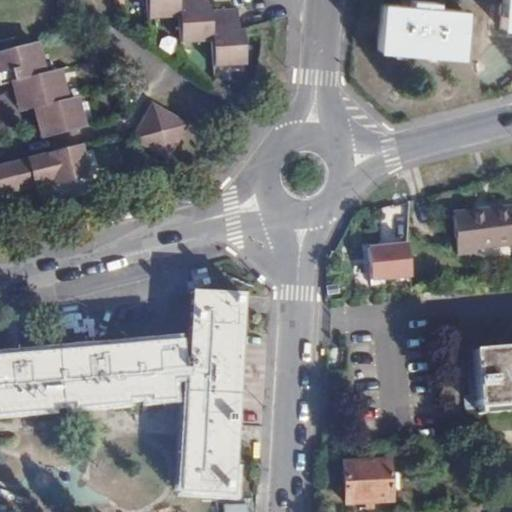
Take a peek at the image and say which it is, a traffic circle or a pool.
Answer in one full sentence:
Of the two, only a traffic circle appears.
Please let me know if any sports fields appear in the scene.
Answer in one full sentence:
No, no sports field is visible in the scene.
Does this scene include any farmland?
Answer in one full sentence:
No, there is no farmland in the image.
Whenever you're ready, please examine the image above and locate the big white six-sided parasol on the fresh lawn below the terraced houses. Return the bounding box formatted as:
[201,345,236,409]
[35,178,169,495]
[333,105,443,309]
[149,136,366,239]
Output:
[159,35,176,54]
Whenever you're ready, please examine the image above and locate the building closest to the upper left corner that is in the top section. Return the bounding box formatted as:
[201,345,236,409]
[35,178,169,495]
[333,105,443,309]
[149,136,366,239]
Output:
[0,41,55,83]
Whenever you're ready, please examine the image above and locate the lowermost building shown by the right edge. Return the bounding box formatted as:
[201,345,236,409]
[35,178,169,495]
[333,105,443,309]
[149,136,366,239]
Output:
[470,334,512,414]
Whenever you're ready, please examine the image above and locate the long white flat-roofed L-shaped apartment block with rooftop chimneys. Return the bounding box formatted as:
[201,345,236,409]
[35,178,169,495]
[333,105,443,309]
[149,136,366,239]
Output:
[0,284,250,500]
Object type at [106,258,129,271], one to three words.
vehicle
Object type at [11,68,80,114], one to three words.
house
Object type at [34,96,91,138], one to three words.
house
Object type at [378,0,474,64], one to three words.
building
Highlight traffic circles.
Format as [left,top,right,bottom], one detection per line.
[226,100,378,272]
